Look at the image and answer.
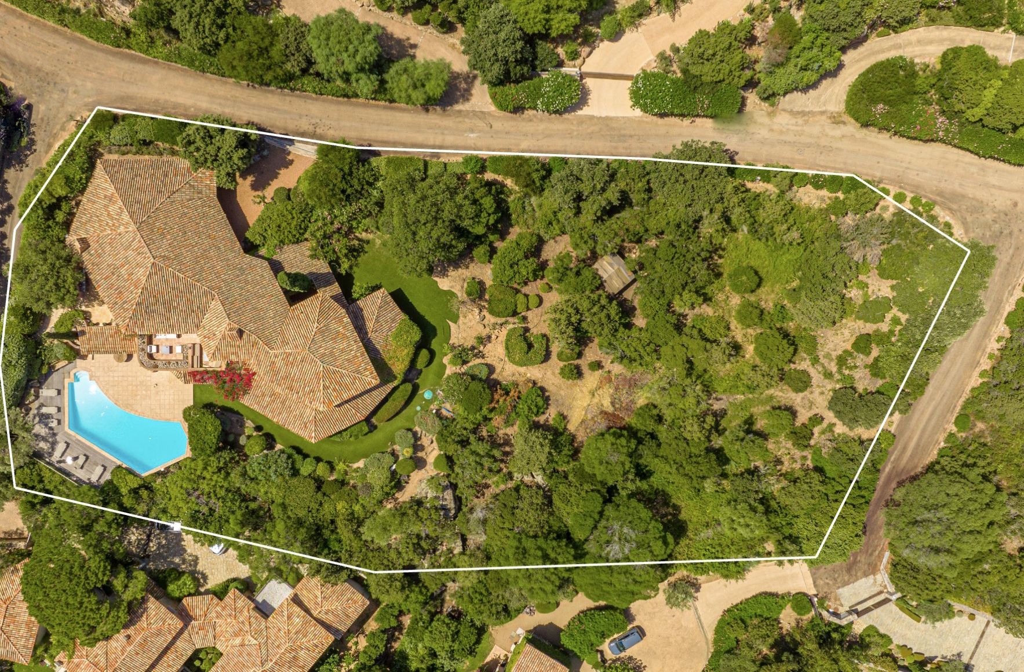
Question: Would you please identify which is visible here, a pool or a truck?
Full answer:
Visible in the photo is a pool.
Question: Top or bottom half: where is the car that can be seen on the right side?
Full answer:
The bottom half of the photo is where the car that can be seen on the right side is.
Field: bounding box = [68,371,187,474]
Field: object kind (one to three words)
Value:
swimming pool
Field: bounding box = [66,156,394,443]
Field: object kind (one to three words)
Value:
house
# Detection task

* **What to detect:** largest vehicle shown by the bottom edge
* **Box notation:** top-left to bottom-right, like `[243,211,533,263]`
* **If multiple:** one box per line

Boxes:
[607,624,644,654]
